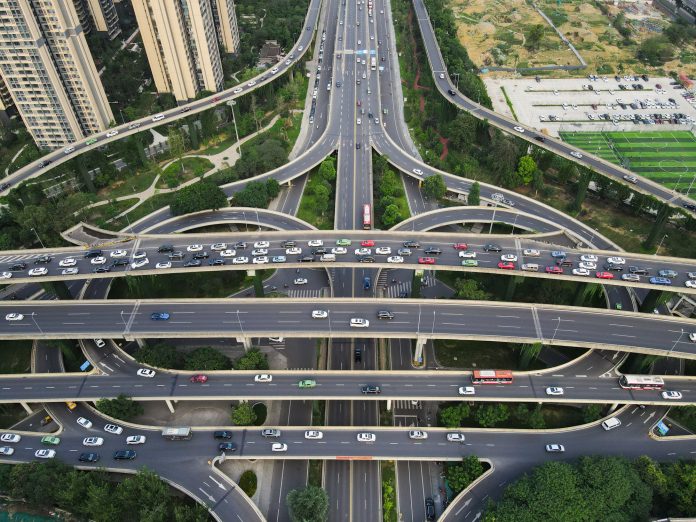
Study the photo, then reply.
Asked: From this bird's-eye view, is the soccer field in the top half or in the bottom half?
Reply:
top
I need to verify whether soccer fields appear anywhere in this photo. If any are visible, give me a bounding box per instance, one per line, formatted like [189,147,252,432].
[558,132,696,201]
